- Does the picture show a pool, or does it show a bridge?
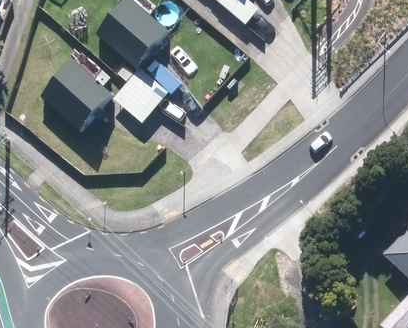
pool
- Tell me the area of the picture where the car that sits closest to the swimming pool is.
top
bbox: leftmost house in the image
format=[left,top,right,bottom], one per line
[40,59,113,132]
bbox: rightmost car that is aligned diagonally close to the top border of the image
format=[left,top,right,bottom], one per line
[250,12,280,41]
